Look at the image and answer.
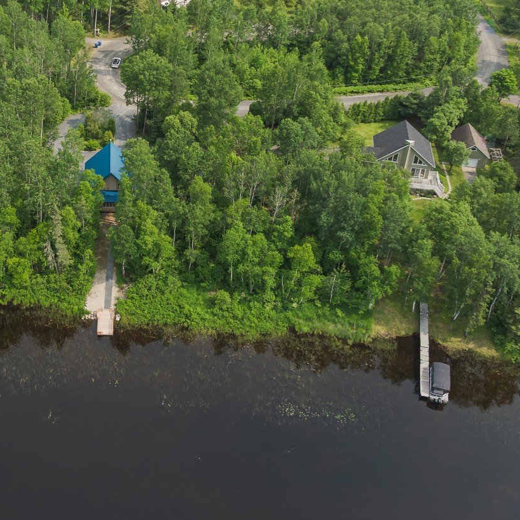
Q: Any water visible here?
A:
Yes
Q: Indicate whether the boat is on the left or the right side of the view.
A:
right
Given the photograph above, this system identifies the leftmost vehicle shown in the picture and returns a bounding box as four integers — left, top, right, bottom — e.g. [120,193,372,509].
[109,56,122,69]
